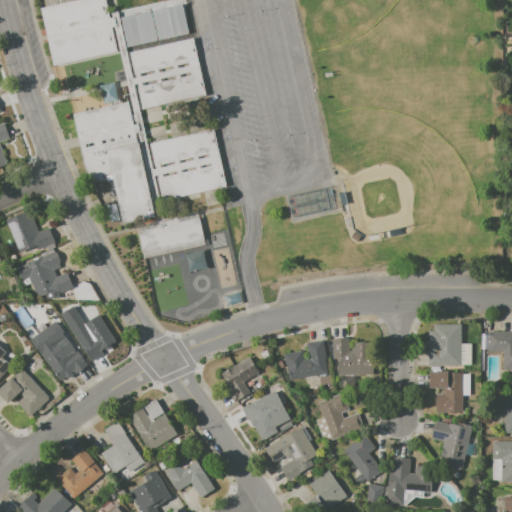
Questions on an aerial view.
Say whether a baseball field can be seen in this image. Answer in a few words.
Yes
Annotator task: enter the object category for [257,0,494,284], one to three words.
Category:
sports field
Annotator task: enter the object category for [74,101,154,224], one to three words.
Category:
building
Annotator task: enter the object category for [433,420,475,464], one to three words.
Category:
house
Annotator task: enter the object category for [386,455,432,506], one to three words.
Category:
house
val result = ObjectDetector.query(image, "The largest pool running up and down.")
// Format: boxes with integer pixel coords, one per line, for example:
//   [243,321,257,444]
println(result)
[488,356,500,381]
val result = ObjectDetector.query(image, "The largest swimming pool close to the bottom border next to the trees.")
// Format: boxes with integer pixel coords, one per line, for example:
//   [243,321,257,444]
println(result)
[441,484,459,504]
